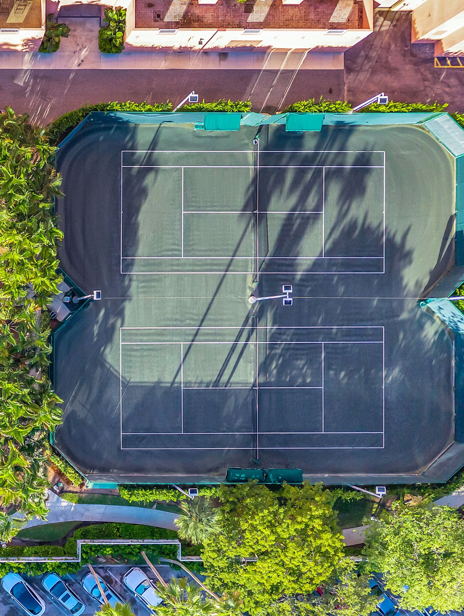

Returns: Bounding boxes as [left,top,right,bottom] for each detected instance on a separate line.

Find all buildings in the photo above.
[0,0,45,50]
[412,0,464,58]
[120,0,374,51]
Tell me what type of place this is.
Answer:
sports ground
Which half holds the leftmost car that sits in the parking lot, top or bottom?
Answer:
bottom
